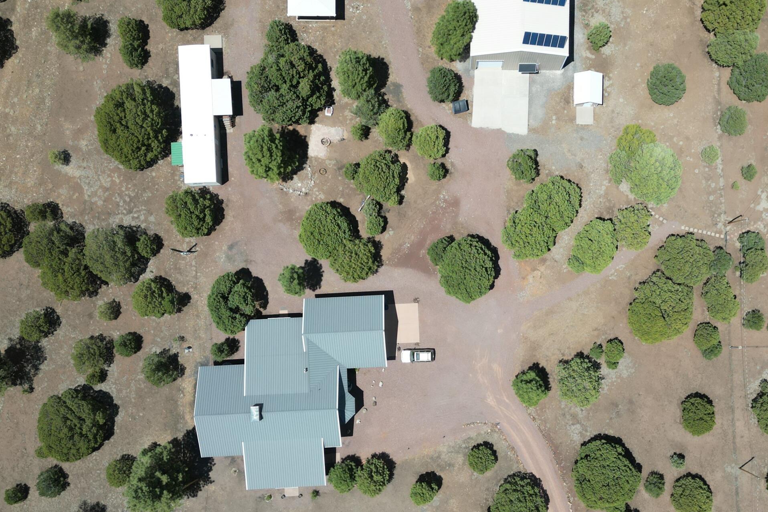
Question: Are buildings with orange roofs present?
No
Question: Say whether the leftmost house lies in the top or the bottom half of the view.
top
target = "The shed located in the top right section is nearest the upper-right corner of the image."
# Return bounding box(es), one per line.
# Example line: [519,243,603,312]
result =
[573,70,602,107]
